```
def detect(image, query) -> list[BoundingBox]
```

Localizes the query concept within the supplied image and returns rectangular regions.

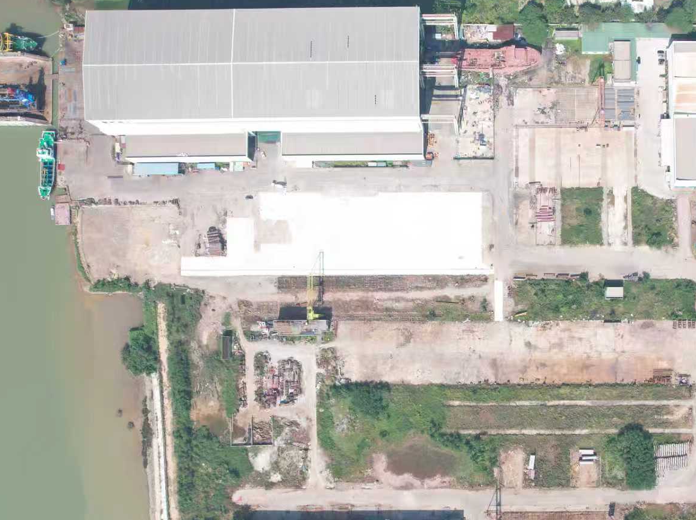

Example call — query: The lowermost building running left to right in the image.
[273,320,331,335]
